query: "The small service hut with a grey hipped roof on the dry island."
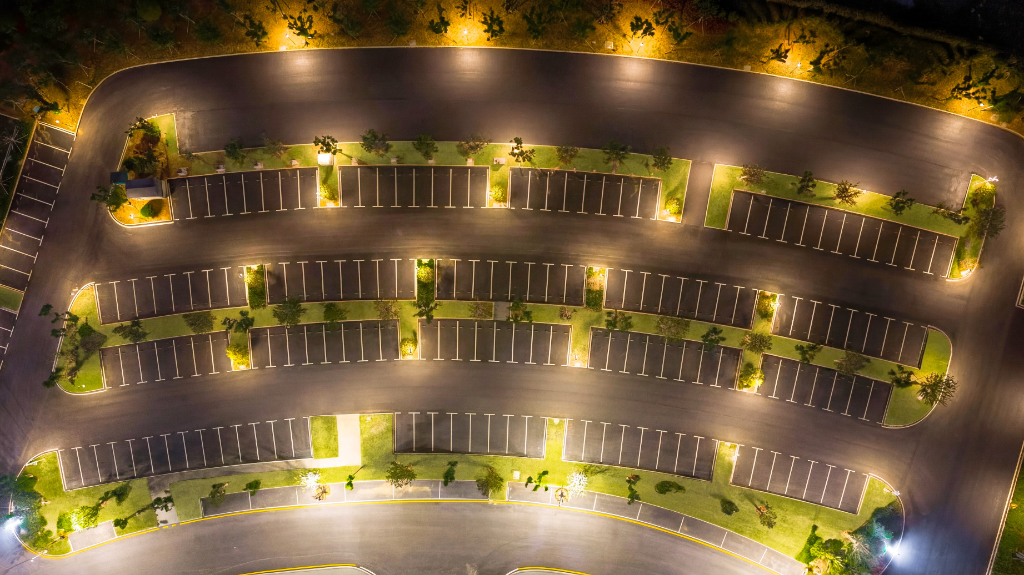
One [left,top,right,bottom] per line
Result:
[121,174,173,203]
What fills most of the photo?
paved ground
